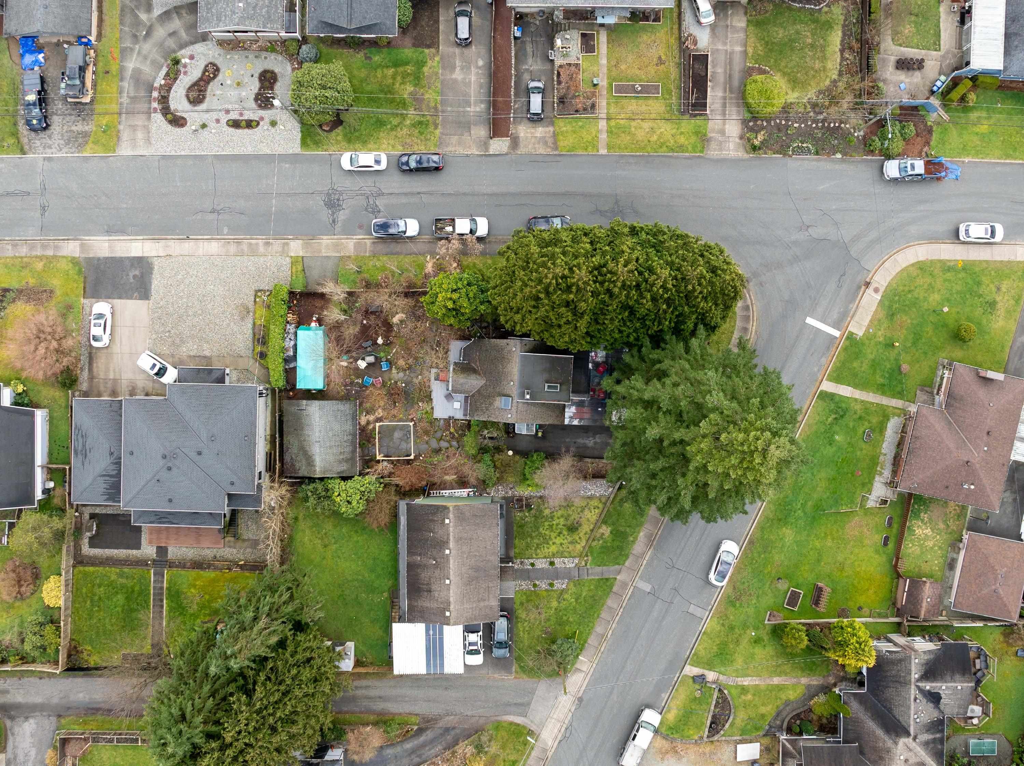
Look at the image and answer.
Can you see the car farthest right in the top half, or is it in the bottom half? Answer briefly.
top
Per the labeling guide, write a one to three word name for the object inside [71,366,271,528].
house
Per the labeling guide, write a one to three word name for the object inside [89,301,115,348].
car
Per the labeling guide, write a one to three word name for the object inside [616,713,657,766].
truck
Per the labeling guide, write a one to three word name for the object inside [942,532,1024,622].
building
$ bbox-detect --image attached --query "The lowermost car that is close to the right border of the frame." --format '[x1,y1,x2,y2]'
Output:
[954,221,1003,243]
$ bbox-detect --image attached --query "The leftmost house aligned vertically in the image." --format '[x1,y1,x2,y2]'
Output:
[0,382,52,510]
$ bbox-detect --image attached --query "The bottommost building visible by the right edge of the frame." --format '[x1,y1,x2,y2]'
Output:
[775,629,975,766]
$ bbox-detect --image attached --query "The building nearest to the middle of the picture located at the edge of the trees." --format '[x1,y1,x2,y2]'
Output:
[430,337,622,425]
